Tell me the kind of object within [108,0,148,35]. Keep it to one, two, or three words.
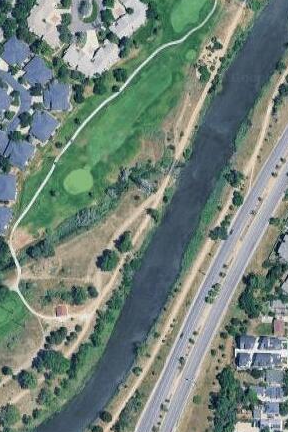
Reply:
building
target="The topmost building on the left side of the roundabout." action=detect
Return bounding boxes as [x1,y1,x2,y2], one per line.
[27,0,62,49]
